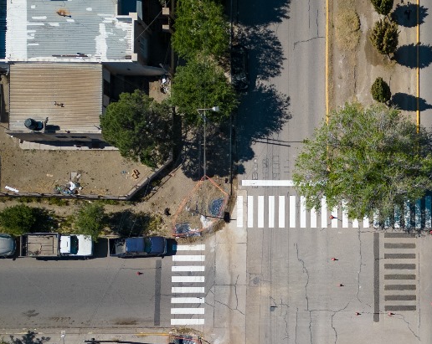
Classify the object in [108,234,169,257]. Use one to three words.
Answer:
truck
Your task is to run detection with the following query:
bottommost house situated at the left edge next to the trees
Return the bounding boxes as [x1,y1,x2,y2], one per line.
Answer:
[7,63,120,152]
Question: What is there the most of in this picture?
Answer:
paved ground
